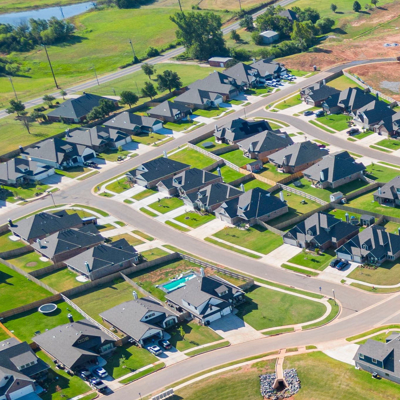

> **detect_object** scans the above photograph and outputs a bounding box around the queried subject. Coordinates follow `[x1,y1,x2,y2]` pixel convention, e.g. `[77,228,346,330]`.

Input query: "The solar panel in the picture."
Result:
[240,123,268,135]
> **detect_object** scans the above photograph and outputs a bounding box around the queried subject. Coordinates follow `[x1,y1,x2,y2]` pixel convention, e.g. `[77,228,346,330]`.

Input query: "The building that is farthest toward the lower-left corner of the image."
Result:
[0,341,64,400]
